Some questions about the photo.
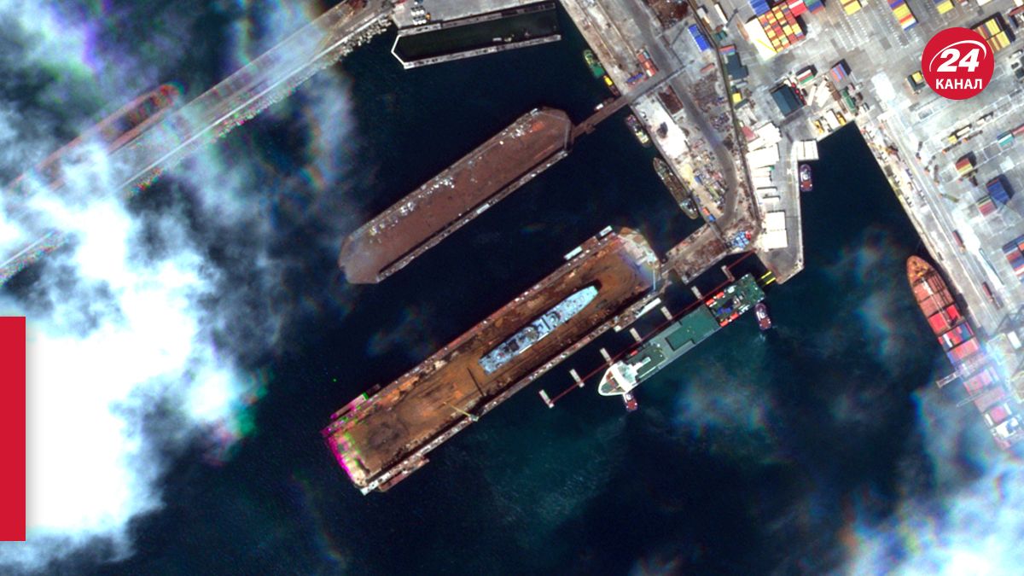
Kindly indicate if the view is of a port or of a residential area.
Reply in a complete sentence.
This image shows a port.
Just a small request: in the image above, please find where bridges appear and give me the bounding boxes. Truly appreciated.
[569,95,634,142]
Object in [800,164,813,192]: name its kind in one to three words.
boat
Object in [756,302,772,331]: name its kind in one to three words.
boat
